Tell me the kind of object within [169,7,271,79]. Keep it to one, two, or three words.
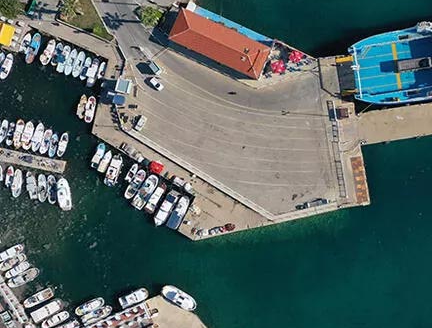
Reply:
building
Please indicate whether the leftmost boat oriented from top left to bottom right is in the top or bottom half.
bottom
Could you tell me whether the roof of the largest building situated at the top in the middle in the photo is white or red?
red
